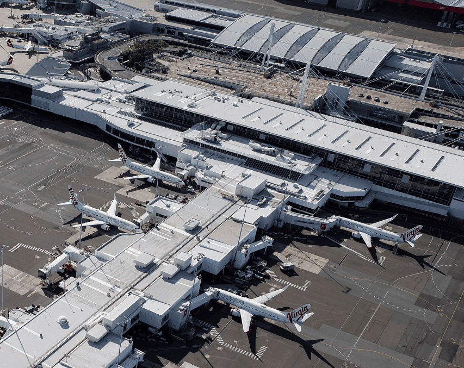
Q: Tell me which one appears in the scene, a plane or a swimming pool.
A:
plane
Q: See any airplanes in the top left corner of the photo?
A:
Yes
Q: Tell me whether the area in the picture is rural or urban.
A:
urban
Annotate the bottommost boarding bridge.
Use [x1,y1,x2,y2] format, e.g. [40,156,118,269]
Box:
[118,343,149,368]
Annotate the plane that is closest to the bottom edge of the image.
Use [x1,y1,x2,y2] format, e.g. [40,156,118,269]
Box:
[204,283,313,332]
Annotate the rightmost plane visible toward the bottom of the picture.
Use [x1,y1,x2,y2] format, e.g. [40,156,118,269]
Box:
[325,213,422,248]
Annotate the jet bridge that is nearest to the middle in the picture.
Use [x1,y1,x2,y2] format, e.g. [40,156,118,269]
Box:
[172,170,193,191]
